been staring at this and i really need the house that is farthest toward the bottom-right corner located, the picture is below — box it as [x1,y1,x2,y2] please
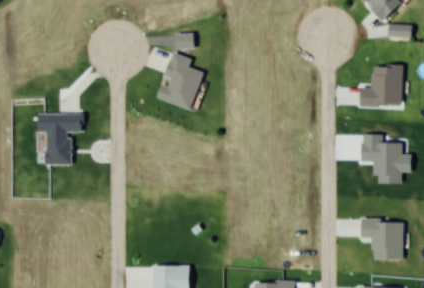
[362,218,404,260]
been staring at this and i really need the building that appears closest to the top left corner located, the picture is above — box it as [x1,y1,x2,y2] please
[38,112,83,164]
